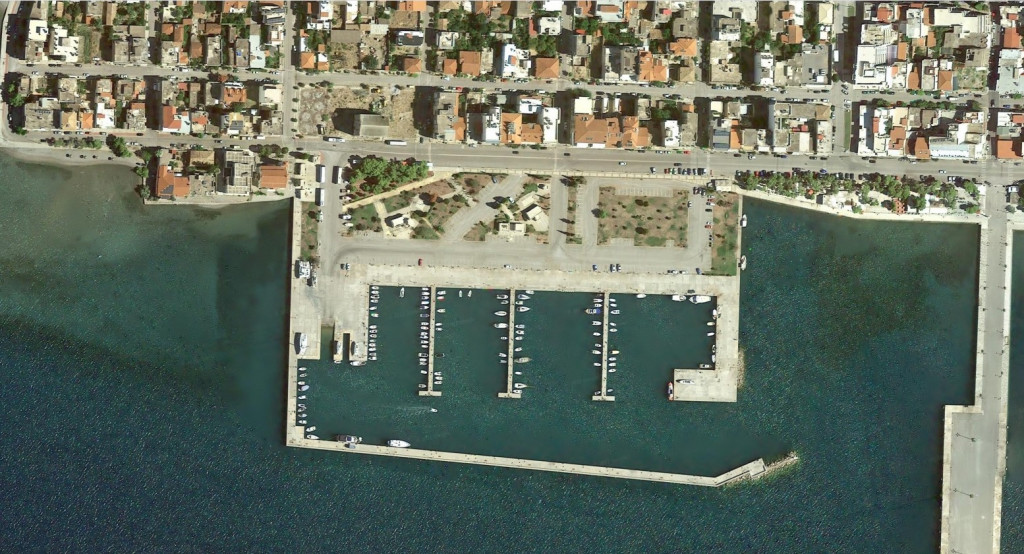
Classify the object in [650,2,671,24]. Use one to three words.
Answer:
building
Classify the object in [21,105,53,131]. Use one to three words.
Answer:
house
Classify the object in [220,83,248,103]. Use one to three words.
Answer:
house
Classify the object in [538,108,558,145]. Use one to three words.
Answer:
building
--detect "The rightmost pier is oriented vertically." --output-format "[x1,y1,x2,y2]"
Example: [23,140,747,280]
[941,186,1012,554]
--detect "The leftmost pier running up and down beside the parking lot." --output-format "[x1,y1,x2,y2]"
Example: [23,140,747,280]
[418,287,441,396]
